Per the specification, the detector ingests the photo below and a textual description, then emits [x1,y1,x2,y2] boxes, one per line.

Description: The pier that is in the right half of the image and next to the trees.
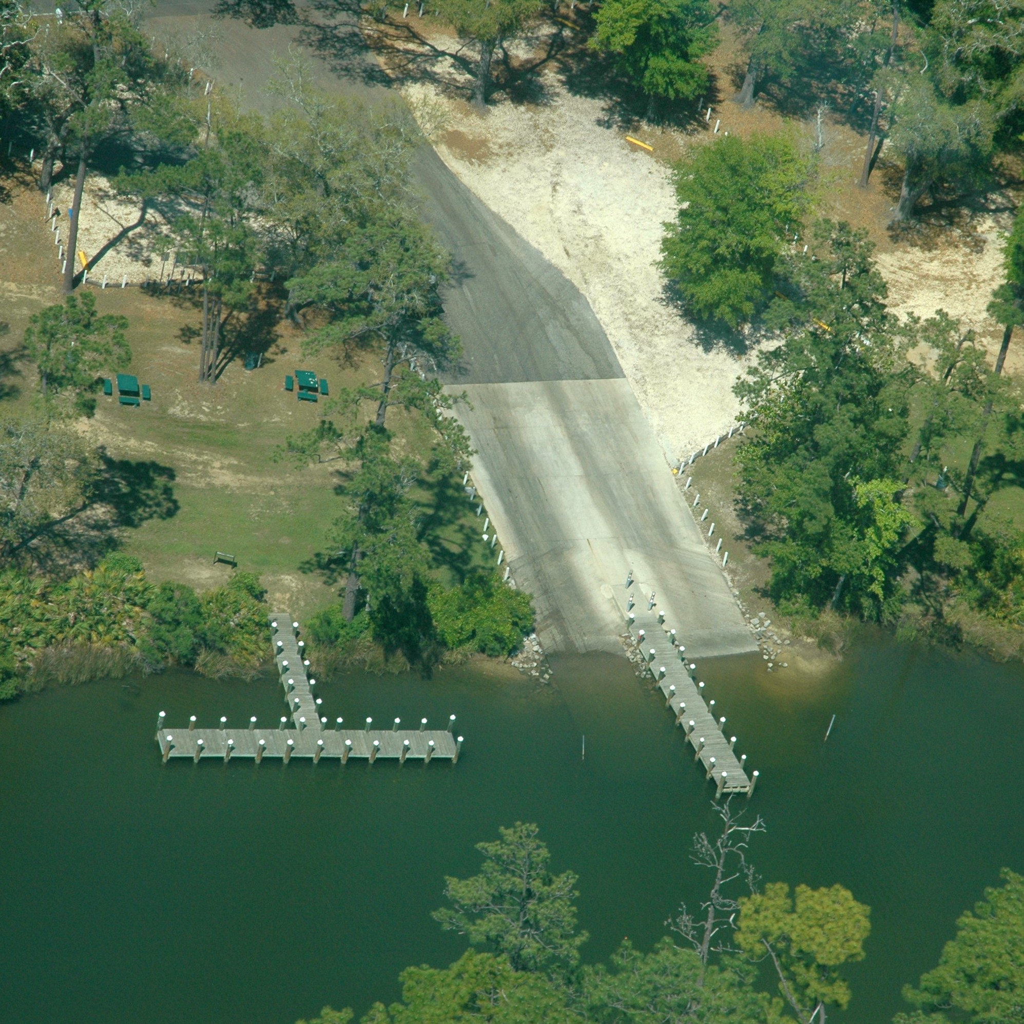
[625,612,758,801]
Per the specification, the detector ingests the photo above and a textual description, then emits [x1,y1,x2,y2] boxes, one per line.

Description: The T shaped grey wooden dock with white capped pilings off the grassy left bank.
[156,613,463,766]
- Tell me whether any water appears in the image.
Yes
